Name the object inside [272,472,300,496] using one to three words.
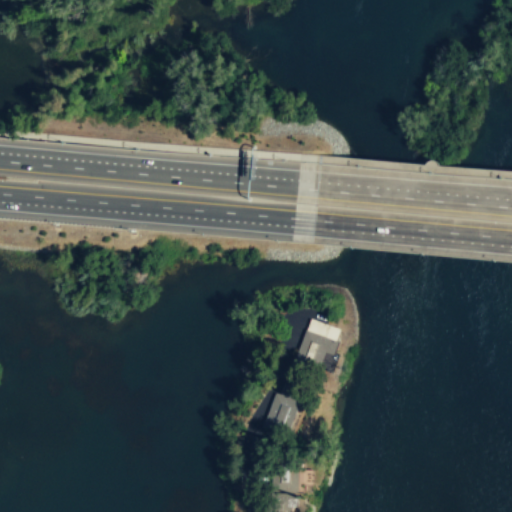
house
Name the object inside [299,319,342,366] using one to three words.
house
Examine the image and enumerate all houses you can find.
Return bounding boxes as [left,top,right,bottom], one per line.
[299,319,342,366]
[274,496,302,512]
[264,394,298,436]
[272,472,300,496]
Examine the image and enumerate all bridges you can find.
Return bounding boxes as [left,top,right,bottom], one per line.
[294,154,512,262]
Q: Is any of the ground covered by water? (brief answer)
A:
Yes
